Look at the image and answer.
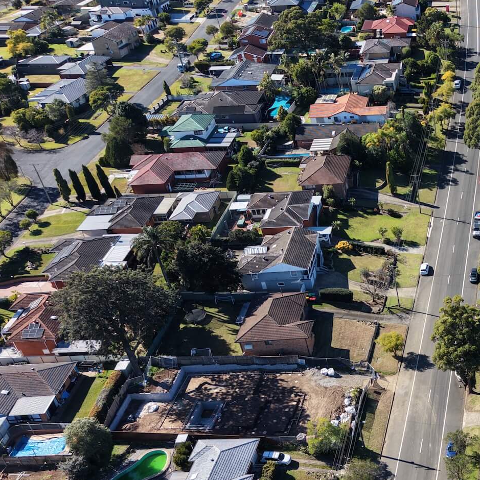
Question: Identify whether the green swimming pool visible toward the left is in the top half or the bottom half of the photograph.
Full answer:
The green swimming pool visible toward the left is in the bottom half of the image.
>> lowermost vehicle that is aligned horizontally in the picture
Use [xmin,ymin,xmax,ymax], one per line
[260,450,292,468]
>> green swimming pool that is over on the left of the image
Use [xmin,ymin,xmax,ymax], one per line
[109,448,171,480]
